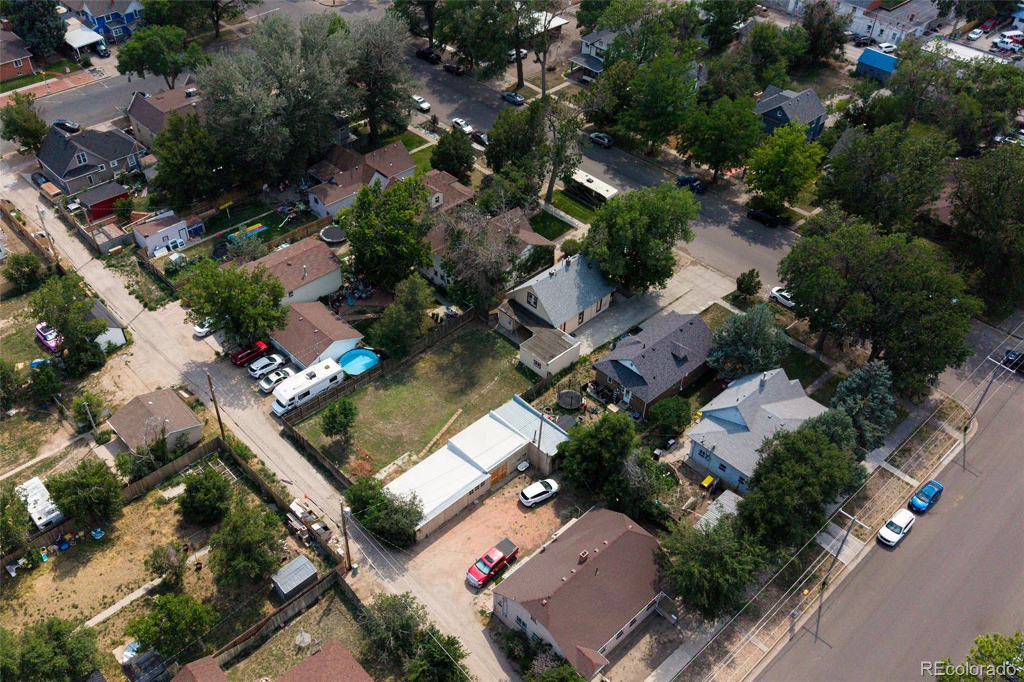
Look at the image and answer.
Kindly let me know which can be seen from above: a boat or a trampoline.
trampoline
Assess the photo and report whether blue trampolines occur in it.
No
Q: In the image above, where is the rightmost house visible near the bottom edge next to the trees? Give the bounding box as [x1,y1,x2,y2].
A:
[485,506,700,682]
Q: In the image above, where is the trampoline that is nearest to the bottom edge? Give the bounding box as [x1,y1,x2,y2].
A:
[555,378,586,415]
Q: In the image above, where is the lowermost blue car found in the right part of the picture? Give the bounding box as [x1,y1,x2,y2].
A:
[910,482,942,517]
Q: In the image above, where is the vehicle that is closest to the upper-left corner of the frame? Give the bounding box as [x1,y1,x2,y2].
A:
[92,41,112,57]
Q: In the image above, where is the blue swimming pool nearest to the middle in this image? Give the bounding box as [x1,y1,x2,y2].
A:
[339,348,379,381]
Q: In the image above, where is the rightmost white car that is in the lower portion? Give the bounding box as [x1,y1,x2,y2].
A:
[877,507,916,548]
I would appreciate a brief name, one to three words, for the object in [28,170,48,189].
car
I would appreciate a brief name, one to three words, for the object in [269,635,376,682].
house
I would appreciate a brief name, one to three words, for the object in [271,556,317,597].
shed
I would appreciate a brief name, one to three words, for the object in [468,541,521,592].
truck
